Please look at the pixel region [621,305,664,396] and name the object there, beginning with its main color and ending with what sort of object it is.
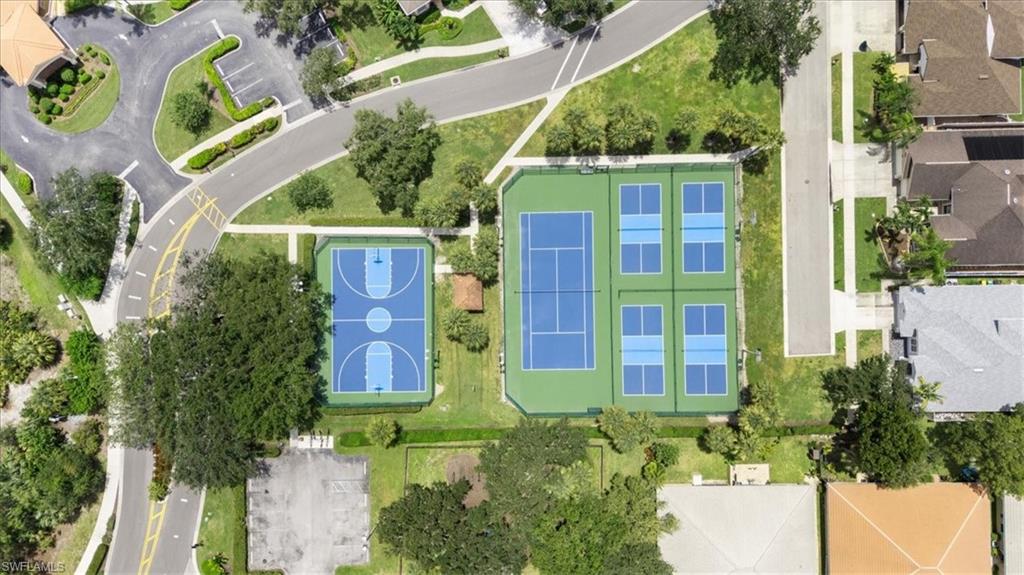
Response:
blue sports court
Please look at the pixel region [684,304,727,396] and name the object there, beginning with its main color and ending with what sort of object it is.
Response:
blue sports court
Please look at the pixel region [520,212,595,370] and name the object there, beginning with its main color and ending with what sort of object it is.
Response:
blue tennis court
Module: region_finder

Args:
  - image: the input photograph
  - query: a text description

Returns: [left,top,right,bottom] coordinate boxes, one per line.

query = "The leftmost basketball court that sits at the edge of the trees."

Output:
[316,239,434,404]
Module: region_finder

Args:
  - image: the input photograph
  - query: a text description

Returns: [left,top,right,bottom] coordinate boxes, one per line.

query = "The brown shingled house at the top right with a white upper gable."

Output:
[889,0,1024,118]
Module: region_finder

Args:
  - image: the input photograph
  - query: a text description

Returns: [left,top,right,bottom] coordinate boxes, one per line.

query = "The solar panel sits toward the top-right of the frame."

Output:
[963,134,1024,160]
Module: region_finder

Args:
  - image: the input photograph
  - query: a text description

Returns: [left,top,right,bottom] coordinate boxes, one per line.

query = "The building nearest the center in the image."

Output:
[454,274,483,311]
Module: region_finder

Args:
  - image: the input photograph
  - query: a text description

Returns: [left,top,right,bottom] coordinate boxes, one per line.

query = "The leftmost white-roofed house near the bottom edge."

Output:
[657,484,818,575]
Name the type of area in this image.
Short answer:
residential area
